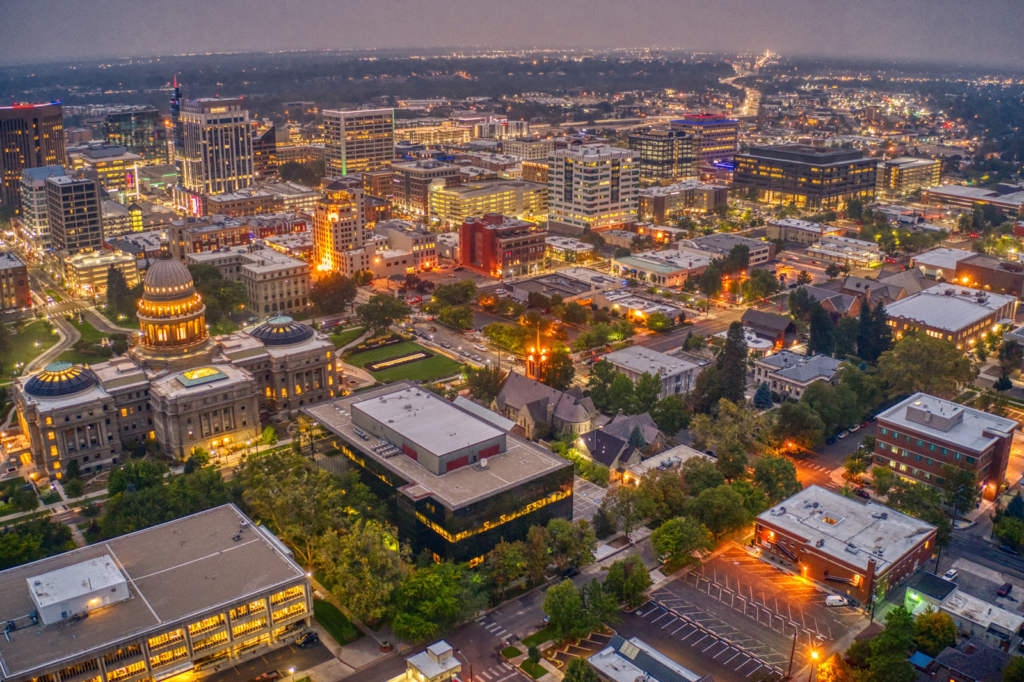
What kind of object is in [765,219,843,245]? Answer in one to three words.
building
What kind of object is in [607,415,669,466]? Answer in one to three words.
house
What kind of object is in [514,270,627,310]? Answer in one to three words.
building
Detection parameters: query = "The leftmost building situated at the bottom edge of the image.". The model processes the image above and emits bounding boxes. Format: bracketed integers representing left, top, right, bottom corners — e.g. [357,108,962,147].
[0,497,311,682]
